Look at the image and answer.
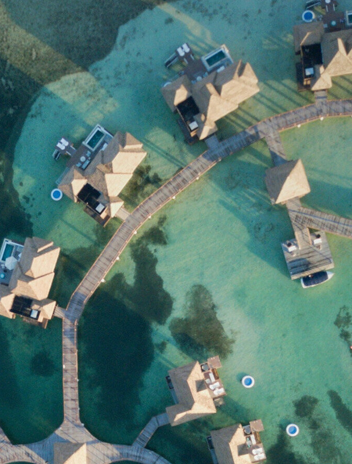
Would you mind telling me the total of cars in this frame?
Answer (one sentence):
I count no cars.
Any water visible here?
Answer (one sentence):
Yes, there is water in the image.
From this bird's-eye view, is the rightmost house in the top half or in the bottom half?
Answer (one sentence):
The rightmost house sits in the top half of the picture.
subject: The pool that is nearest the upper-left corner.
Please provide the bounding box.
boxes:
[84,124,115,153]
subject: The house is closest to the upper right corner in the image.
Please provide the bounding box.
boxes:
[289,0,352,101]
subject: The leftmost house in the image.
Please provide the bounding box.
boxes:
[0,236,61,329]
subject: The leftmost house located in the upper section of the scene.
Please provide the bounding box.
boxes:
[53,130,147,225]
